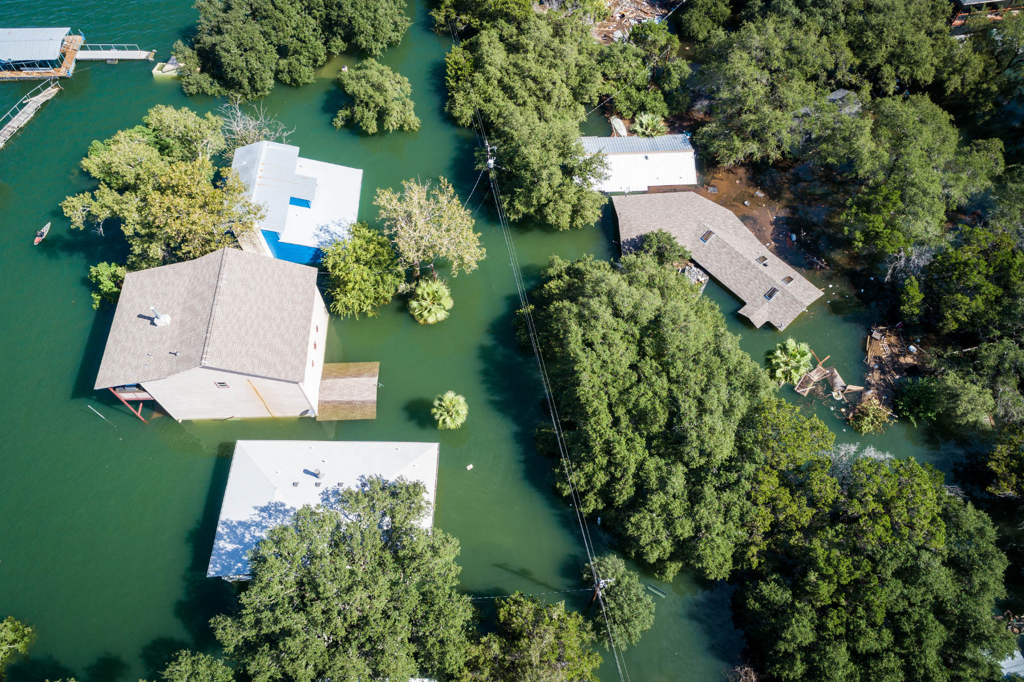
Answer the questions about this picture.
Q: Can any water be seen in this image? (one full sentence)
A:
Yes, there's water in this view.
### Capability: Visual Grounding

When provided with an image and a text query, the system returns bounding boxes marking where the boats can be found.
[33,221,50,244]
[610,116,627,136]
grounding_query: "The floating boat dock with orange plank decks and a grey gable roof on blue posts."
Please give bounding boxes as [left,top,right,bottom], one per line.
[0,23,84,81]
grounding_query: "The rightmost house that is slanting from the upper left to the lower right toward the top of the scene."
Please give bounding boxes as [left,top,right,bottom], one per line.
[611,185,825,332]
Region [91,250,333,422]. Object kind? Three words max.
house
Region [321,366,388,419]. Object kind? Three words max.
building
